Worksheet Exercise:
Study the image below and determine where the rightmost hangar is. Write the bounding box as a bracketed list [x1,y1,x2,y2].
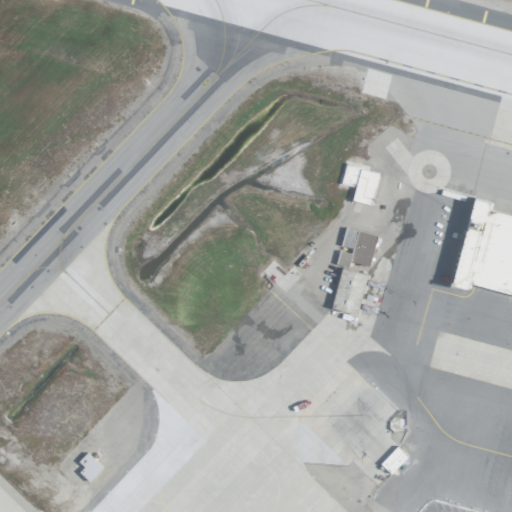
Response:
[450,198,512,296]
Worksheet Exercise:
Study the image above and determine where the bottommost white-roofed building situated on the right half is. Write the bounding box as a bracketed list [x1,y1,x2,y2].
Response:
[382,446,410,474]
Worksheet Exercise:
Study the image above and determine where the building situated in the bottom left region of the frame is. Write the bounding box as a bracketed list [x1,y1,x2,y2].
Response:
[80,452,106,482]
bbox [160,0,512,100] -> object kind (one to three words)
runway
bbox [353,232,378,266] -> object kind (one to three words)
building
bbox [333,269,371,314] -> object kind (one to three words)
building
